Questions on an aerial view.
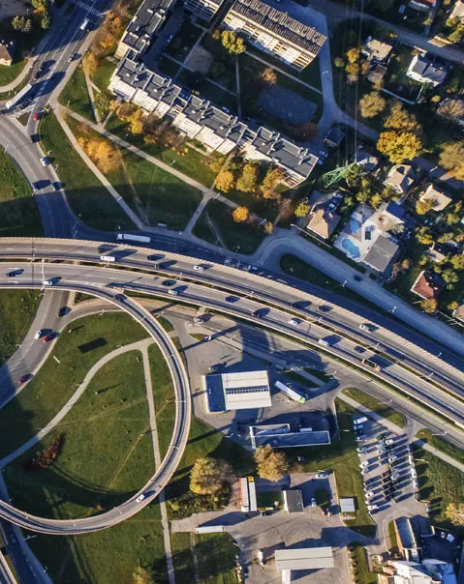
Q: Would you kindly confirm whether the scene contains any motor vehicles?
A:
Yes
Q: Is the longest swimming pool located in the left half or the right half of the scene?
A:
right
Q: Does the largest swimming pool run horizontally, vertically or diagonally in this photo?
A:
diagonally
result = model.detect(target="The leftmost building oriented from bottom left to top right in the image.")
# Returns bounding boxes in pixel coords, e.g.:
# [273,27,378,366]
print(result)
[115,0,175,64]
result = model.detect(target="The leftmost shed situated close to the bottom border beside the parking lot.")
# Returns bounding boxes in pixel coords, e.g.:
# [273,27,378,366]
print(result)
[269,542,336,570]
